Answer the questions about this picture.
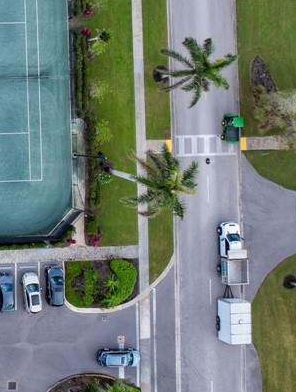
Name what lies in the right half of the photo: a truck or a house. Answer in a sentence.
You can see a truck in the right half of the photo.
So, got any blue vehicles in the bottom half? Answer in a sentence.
Yes, looking in the bottom half, one can make out a blue vehicle.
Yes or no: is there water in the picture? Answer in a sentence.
No, the picture contains no water.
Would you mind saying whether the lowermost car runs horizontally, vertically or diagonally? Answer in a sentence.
In this picture, the lowermost car lies horizontally.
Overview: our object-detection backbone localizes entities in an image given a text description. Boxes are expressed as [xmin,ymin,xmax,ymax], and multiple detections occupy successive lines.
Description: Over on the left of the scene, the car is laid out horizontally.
[95,346,139,368]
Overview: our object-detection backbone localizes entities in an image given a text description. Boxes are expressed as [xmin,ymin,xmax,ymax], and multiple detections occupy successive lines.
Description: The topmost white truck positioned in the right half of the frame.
[215,222,248,286]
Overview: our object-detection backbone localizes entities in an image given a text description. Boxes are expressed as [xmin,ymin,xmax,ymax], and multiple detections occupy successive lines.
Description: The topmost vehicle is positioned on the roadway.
[219,116,242,142]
